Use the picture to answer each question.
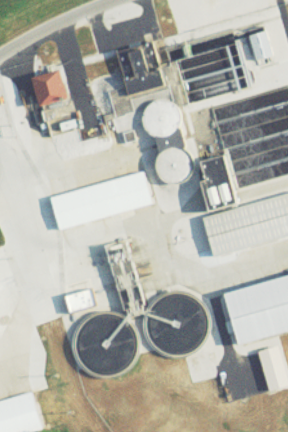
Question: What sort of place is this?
industrial area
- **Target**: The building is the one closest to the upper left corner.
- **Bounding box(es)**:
[32,71,68,106]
